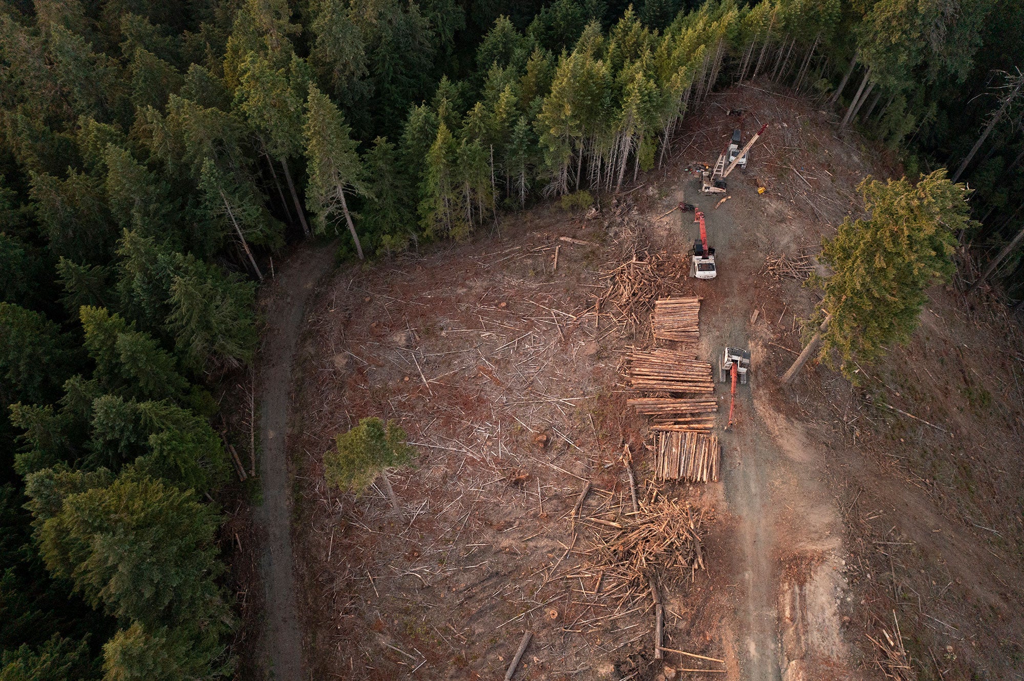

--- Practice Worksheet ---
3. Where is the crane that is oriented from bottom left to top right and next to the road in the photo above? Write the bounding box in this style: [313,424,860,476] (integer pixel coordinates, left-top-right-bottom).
[697,123,768,194]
